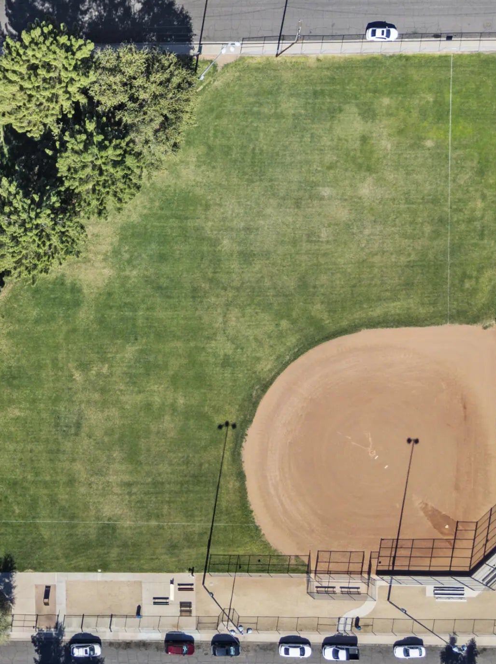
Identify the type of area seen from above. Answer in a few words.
sports ground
